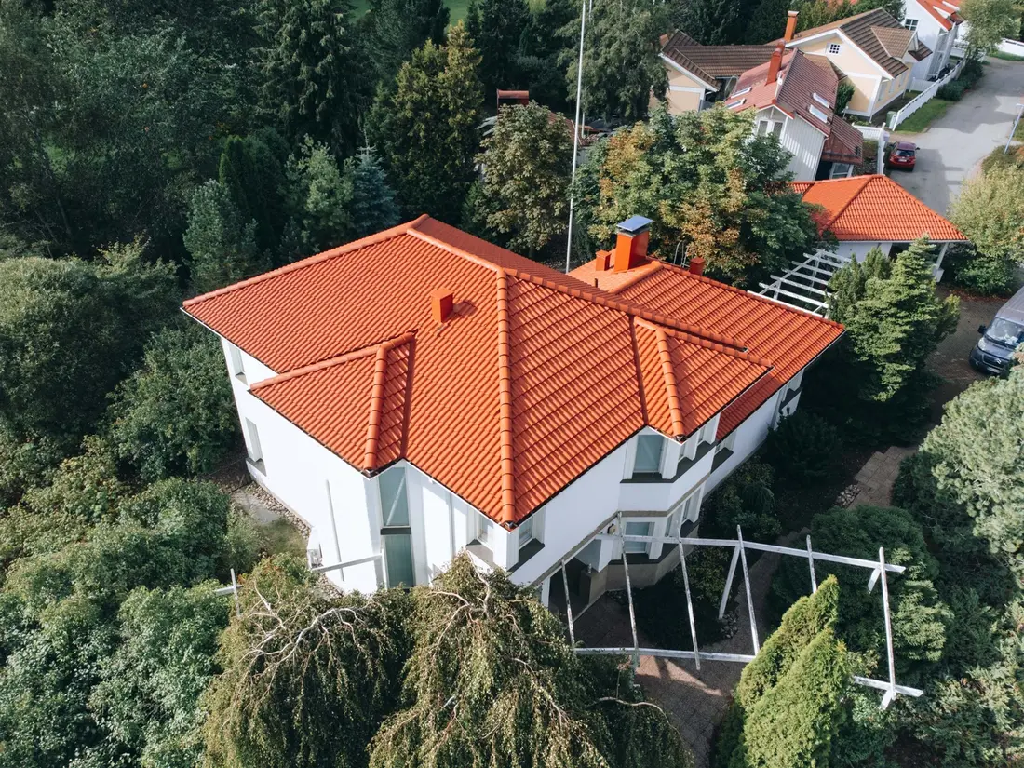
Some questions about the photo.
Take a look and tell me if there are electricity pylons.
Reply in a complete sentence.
No, no electricity pylon is visible in the view.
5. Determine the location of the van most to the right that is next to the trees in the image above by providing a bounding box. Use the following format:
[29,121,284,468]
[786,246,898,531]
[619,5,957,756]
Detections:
[973,284,1024,383]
